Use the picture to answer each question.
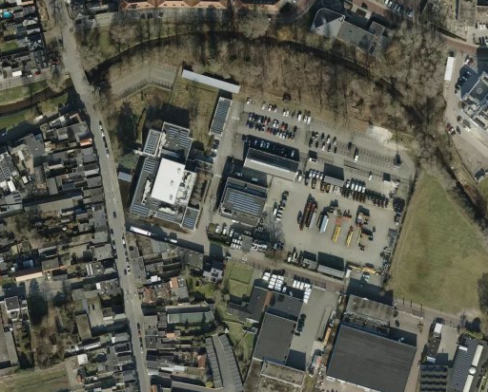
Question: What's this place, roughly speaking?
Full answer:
The picture captures a residential area.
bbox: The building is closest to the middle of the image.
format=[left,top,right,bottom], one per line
[219,177,268,226]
